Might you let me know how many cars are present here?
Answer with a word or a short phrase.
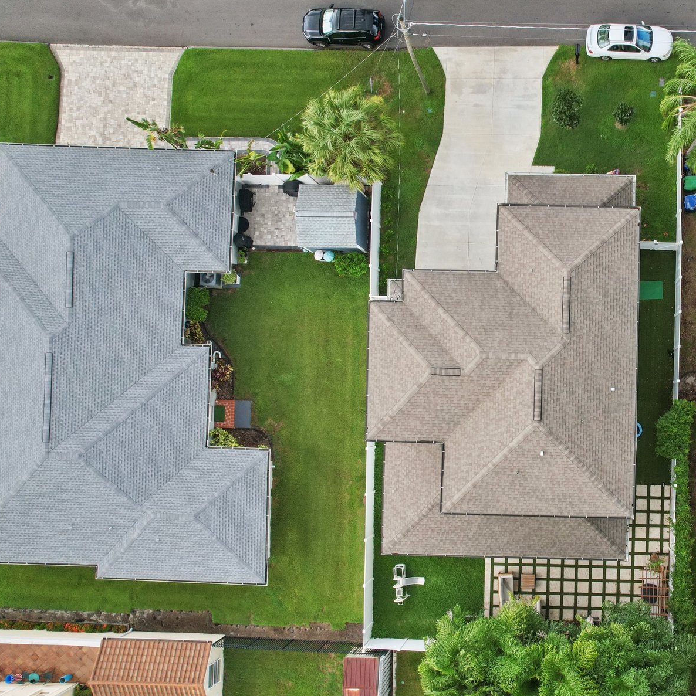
2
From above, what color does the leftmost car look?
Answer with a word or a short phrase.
black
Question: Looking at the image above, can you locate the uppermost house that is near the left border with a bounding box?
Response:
[0,143,276,588]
